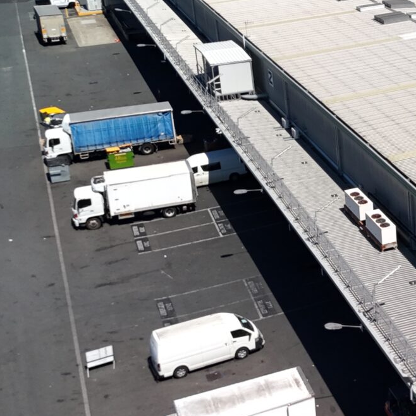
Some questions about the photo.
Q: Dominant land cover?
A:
paved ground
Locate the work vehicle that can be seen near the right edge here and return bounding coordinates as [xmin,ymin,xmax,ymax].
[367,366,415,416]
